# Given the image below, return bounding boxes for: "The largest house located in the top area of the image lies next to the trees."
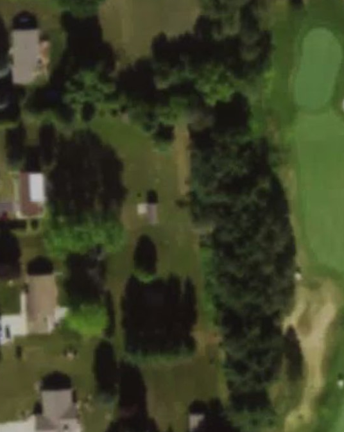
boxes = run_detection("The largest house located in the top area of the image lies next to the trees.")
[11,27,49,83]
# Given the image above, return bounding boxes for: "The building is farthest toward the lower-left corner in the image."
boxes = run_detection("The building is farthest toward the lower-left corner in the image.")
[34,390,80,432]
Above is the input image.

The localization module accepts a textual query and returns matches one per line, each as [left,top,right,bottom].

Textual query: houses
[34,390,80,432]
[11,27,49,83]
[19,171,44,214]
[26,274,55,331]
